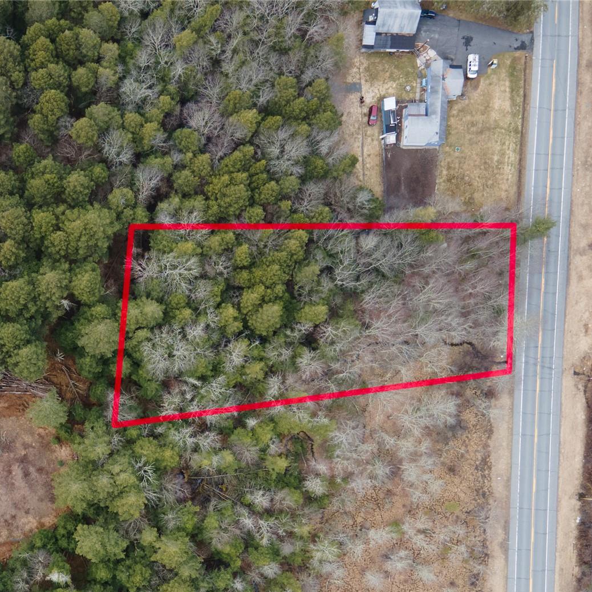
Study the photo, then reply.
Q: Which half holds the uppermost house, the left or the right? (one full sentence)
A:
You can find the uppermost house on the right side of the picture.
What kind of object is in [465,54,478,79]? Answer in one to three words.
vehicle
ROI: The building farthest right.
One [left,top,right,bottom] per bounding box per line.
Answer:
[398,60,464,148]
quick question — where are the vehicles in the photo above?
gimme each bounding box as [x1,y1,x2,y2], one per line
[366,106,376,127]
[465,54,478,79]
[420,8,438,22]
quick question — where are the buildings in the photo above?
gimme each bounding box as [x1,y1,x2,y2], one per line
[376,96,396,138]
[398,60,464,148]
[360,0,422,52]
